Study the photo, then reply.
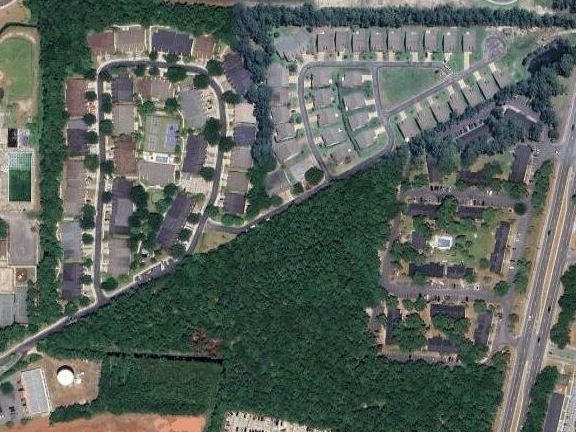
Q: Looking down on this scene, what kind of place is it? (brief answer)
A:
residential area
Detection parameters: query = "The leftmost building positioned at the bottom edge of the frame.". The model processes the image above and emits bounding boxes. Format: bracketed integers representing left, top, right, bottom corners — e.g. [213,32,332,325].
[21,368,52,414]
